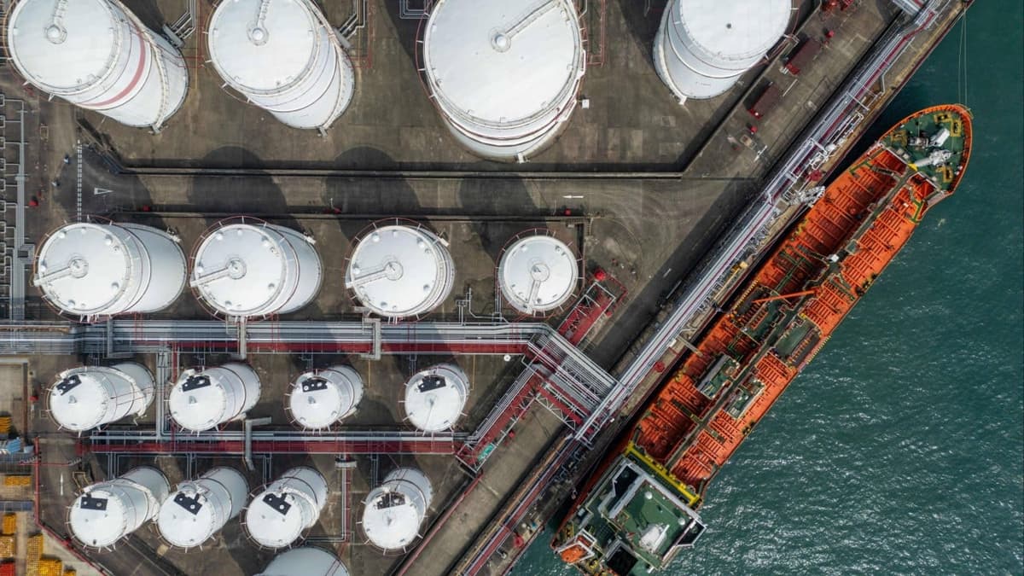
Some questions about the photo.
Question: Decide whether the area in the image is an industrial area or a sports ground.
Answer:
industrial area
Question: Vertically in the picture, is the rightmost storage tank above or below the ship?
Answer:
above it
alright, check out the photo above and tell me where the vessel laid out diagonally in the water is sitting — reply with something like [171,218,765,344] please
[551,100,972,576]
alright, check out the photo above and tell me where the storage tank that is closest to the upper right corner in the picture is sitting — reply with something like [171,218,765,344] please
[651,0,798,101]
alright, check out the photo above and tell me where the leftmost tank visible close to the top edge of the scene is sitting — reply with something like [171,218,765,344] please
[3,0,190,133]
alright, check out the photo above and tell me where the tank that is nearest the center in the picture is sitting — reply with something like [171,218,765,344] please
[491,226,585,320]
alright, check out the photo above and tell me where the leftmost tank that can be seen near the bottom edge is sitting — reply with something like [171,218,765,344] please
[64,465,173,551]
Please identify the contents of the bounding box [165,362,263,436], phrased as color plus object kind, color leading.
white storage tank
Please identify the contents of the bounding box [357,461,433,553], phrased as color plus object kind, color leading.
white storage tank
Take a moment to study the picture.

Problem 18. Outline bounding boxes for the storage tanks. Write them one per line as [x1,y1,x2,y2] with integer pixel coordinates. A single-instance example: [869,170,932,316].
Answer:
[399,361,473,437]
[154,461,250,551]
[165,362,263,436]
[651,0,798,101]
[64,465,173,551]
[254,547,346,576]
[285,364,368,435]
[28,215,187,322]
[344,217,454,325]
[41,362,156,435]
[185,216,323,324]
[417,0,589,165]
[491,226,585,320]
[242,465,329,551]
[357,461,433,553]
[3,0,190,133]
[203,0,355,135]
